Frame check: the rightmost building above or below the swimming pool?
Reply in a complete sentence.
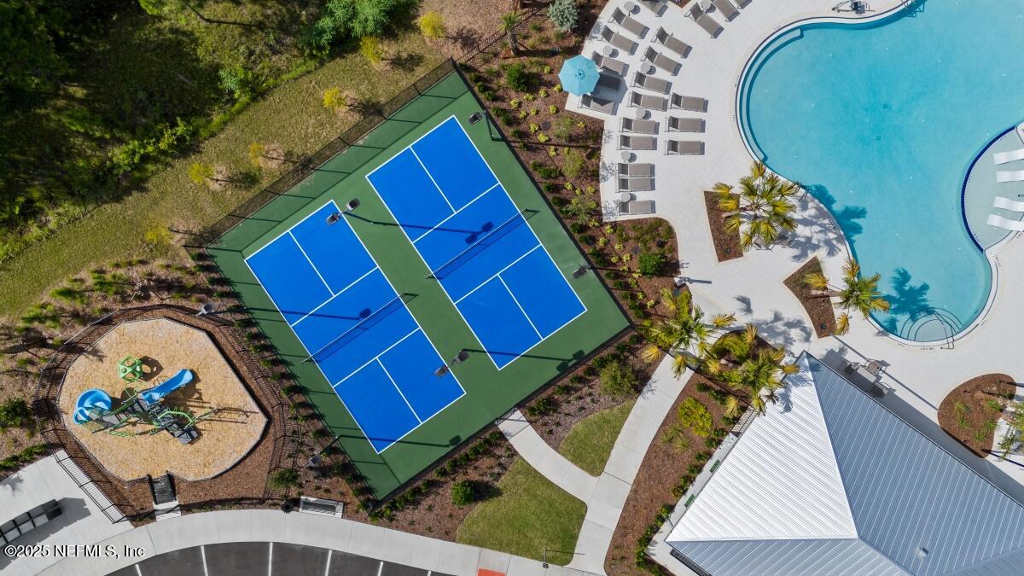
You can see the rightmost building below the swimming pool in the frame.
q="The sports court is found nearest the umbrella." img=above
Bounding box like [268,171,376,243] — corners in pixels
[365,115,587,370]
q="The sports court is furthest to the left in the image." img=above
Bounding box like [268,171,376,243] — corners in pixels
[244,200,466,454]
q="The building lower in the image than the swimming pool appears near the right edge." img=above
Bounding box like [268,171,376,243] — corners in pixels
[663,353,1024,576]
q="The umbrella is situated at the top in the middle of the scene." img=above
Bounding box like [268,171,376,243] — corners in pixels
[558,55,600,98]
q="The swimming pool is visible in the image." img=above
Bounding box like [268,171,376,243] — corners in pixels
[733,0,1024,350]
